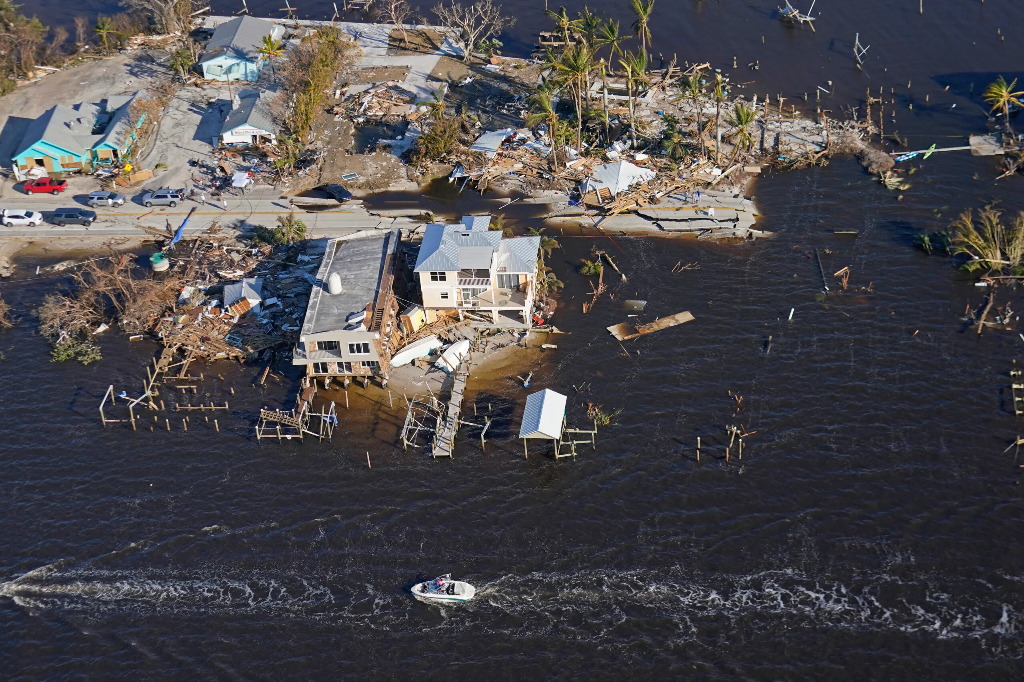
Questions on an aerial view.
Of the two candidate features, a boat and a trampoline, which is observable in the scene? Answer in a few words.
boat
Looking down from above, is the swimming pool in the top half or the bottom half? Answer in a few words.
top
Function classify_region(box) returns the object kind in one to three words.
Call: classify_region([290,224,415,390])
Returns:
house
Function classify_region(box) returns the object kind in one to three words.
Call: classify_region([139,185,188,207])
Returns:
car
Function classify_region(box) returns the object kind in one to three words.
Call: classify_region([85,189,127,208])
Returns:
car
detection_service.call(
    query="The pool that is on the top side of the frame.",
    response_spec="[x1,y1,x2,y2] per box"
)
[589,82,656,104]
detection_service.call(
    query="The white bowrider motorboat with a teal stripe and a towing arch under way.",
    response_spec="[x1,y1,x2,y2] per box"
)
[411,575,479,603]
